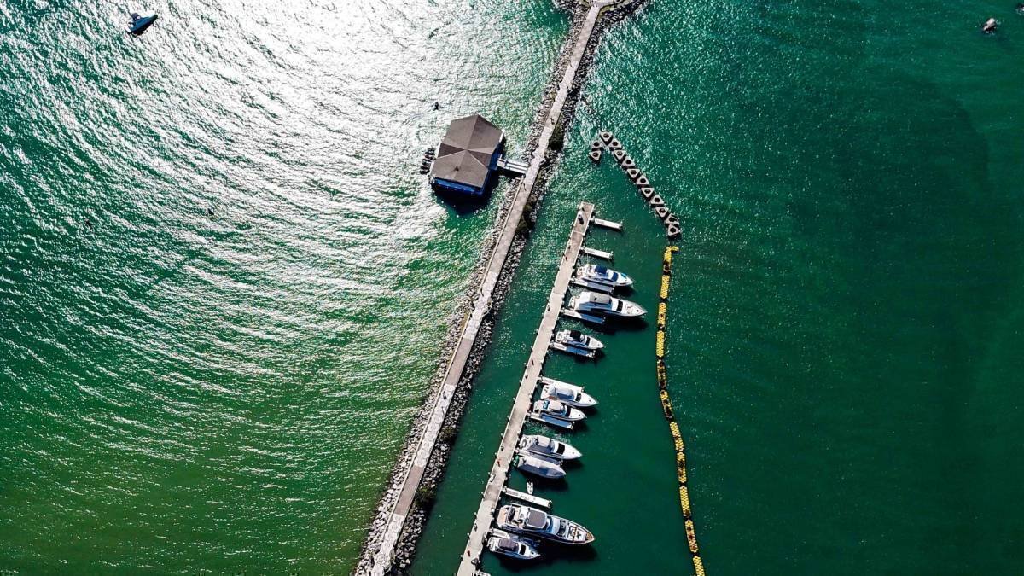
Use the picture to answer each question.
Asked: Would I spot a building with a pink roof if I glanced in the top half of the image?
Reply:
No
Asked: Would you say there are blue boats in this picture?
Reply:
Yes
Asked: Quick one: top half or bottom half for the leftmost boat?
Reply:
top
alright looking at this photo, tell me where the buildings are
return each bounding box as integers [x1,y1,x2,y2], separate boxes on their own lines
[431,115,506,197]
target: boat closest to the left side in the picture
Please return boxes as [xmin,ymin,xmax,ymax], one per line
[125,14,158,36]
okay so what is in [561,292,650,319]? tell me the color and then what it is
white boat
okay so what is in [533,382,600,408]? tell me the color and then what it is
white boat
